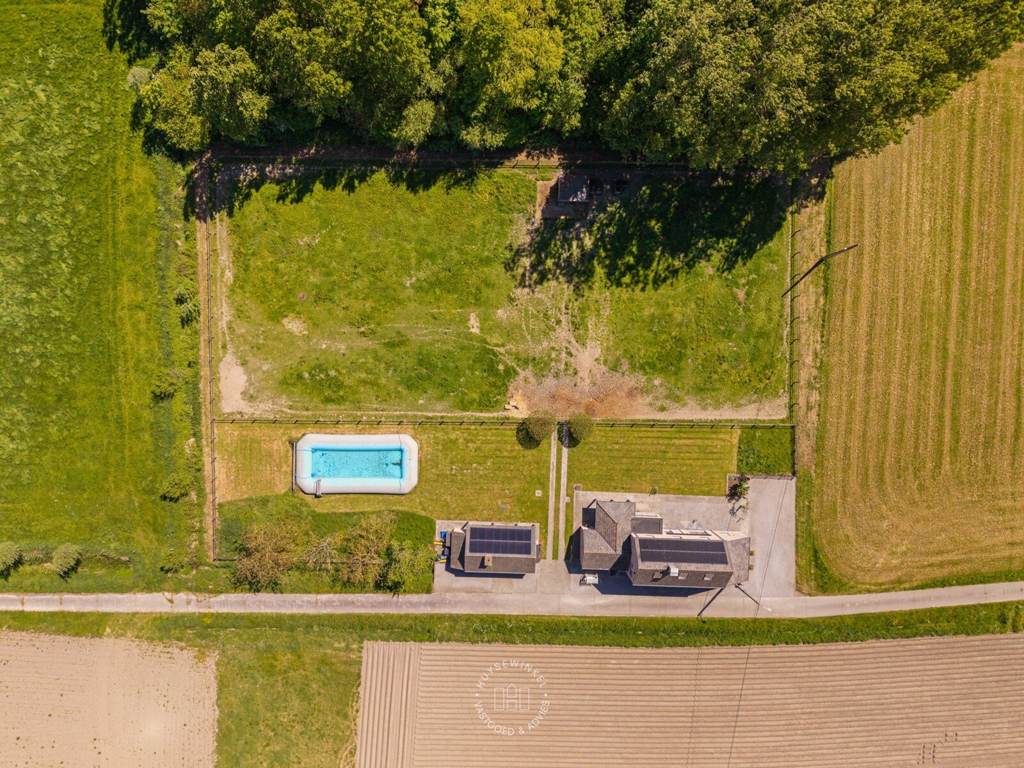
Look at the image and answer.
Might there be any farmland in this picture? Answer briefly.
Yes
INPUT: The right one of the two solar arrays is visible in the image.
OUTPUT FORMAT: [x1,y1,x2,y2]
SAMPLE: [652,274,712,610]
[639,539,728,565]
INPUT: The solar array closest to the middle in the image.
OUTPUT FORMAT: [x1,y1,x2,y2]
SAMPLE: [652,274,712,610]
[469,527,531,555]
